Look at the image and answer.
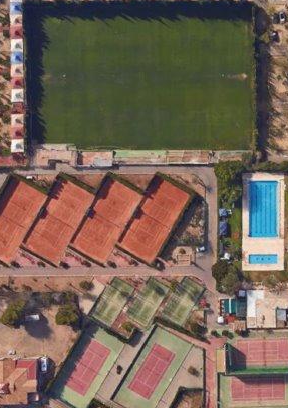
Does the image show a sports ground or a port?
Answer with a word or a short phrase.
sports ground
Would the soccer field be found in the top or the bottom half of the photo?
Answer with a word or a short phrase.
top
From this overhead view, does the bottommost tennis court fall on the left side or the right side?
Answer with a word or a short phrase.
right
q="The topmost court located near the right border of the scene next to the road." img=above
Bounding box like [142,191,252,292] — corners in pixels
[226,331,288,373]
